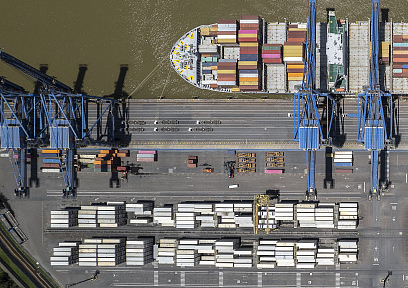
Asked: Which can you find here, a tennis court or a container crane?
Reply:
container crane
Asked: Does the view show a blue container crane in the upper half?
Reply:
Yes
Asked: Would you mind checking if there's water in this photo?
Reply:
Yes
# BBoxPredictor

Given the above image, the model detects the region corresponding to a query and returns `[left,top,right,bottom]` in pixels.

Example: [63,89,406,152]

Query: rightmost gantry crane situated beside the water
[356,0,401,201]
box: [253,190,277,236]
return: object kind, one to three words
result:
container crane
